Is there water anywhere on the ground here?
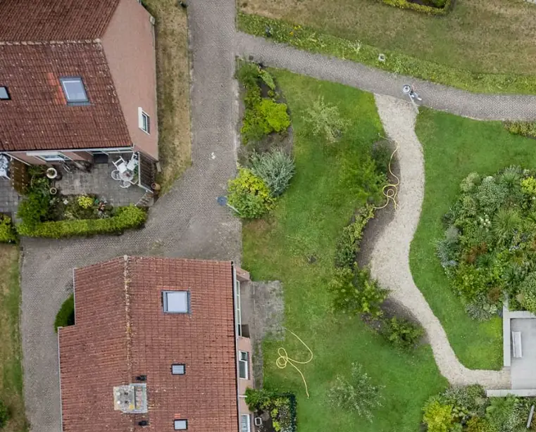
No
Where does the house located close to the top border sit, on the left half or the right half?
left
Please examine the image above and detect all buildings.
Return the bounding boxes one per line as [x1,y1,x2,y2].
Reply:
[0,0,160,162]
[56,254,258,432]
